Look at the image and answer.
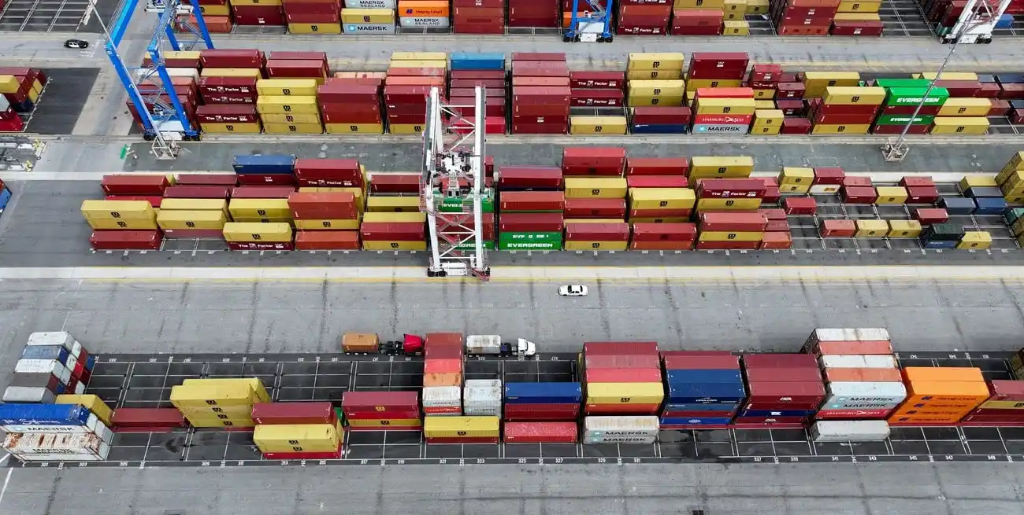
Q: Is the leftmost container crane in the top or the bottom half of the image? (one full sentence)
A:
It is in the top half that the leftmost container crane appears.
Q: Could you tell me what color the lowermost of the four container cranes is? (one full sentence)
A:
The lowermost of the four container cranes looks white in the image.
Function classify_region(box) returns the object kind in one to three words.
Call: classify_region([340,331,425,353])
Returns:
truck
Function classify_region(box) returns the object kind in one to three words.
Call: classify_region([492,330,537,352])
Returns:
truck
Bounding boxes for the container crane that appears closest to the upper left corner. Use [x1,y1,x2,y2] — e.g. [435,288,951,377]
[94,0,211,140]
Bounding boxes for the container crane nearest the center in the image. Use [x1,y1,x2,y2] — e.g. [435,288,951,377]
[416,82,492,281]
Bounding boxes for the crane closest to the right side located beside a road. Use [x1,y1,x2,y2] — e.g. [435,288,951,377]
[944,0,1014,42]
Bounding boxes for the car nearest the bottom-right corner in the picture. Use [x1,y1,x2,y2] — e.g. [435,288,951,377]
[558,281,588,293]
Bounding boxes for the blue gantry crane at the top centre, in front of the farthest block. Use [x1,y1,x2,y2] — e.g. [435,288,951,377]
[565,0,614,41]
